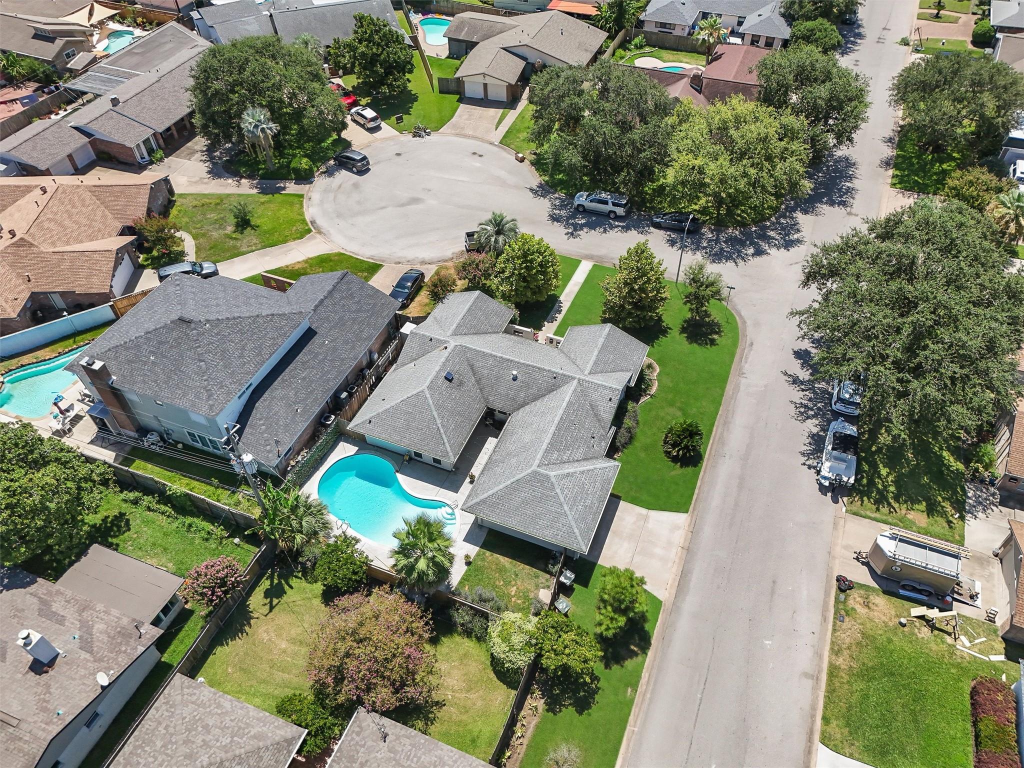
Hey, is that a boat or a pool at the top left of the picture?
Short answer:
pool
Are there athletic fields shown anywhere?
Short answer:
No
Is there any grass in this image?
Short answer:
Yes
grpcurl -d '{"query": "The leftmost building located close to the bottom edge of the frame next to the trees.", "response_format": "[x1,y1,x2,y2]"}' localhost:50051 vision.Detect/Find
[0,543,187,768]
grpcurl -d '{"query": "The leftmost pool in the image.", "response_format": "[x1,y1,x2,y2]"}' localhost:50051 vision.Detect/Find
[0,343,94,420]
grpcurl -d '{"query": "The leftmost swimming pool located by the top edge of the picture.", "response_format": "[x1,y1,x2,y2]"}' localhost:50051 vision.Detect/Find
[101,30,140,55]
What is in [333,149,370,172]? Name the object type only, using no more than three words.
car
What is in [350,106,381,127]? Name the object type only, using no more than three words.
car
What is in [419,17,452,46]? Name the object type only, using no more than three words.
swimming pool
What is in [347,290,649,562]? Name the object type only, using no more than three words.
house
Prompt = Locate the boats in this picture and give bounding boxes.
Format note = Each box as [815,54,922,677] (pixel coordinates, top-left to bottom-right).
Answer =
[817,418,862,490]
